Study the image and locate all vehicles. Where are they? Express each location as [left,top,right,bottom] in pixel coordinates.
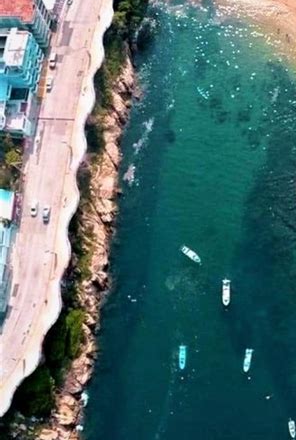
[43,208,50,220]
[32,202,38,216]
[49,52,57,67]
[47,79,53,90]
